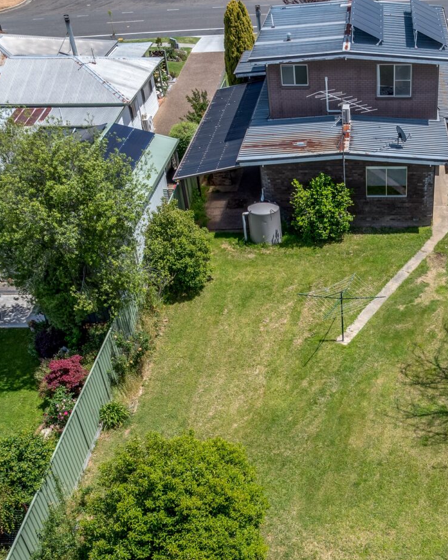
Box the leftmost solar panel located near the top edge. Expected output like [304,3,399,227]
[351,0,384,43]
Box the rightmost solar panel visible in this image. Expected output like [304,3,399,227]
[410,0,446,48]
